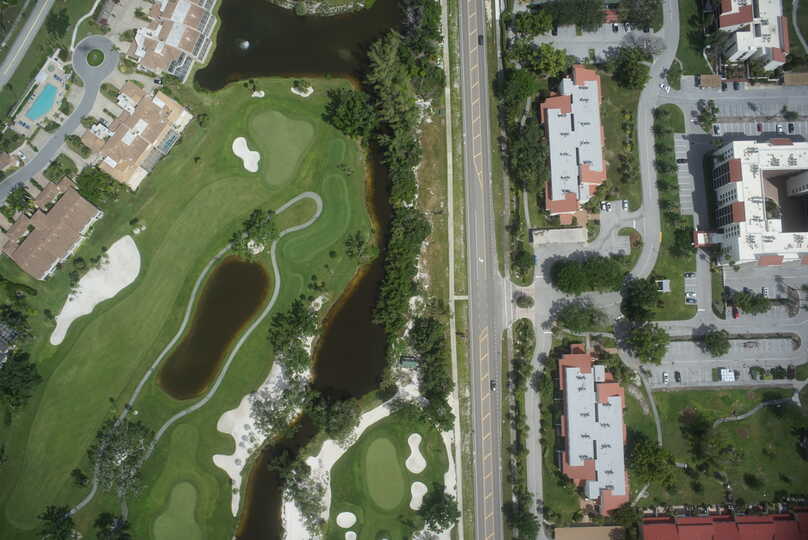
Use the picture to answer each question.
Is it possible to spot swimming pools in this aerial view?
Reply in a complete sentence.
Yes, there's a swimming pool here.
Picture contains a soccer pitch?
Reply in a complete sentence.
No, I find no soccer pitch anywhere in the image.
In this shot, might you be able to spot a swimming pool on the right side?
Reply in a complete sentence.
No, I can find no swimming pool on the right side.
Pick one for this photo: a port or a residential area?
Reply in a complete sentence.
What you see here is a residential area.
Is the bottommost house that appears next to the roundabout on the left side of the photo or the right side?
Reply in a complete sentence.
You can find the bottommost house that appears next to the roundabout on the left side of the picture.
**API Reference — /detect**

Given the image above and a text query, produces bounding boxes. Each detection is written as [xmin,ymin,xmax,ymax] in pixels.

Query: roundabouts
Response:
[71,34,118,79]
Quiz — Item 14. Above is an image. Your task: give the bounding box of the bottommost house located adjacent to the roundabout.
[81,81,196,193]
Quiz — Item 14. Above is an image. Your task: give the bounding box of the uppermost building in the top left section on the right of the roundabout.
[128,0,219,76]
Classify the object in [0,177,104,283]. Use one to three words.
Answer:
house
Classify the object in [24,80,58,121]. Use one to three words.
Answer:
swimming pool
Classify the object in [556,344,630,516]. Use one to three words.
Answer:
building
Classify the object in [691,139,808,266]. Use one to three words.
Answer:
building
